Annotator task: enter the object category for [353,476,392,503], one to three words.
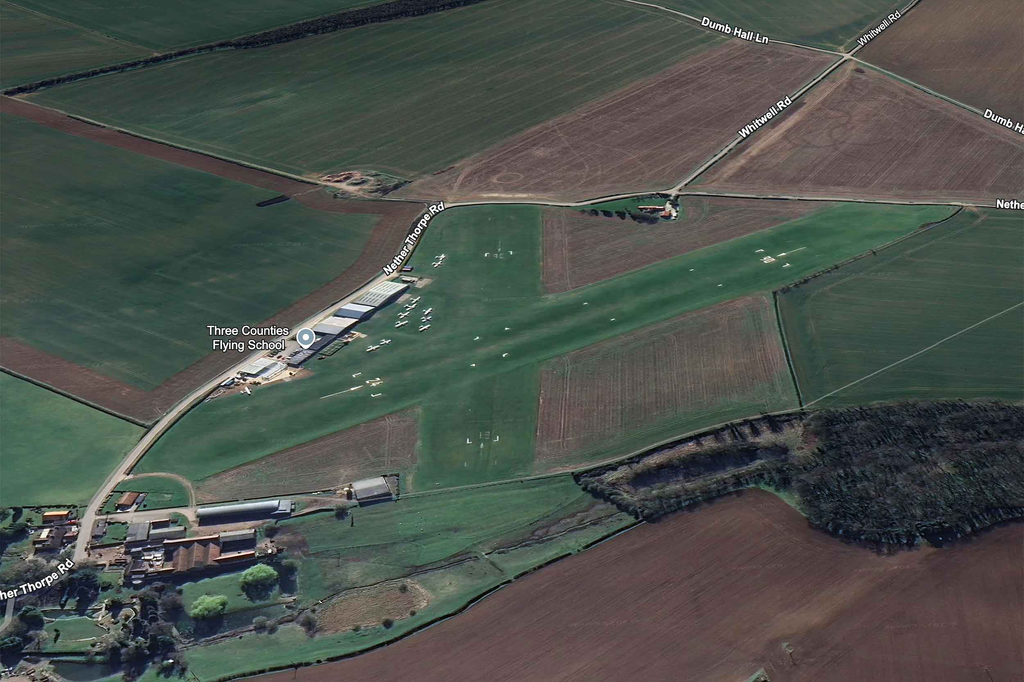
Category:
barn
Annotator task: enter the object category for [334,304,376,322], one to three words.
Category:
hangar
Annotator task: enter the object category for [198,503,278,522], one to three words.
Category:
barn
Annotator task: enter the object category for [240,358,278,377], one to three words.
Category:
hangar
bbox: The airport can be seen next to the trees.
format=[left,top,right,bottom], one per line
[132,196,960,502]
